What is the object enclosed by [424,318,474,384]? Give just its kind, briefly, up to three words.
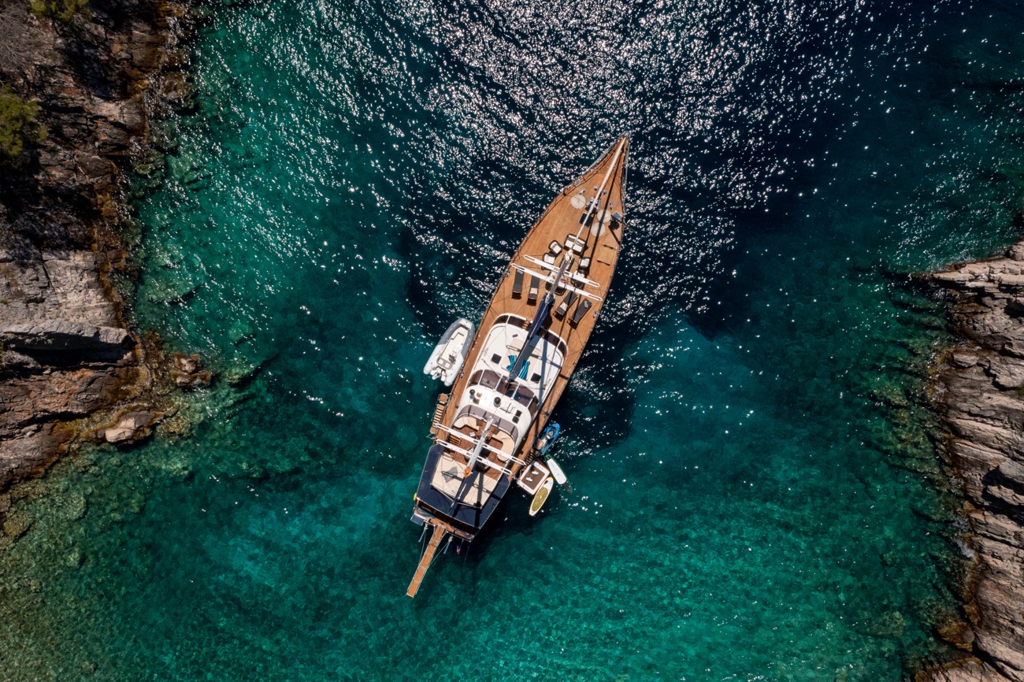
boat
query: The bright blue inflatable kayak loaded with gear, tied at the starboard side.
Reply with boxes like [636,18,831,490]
[532,423,562,459]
